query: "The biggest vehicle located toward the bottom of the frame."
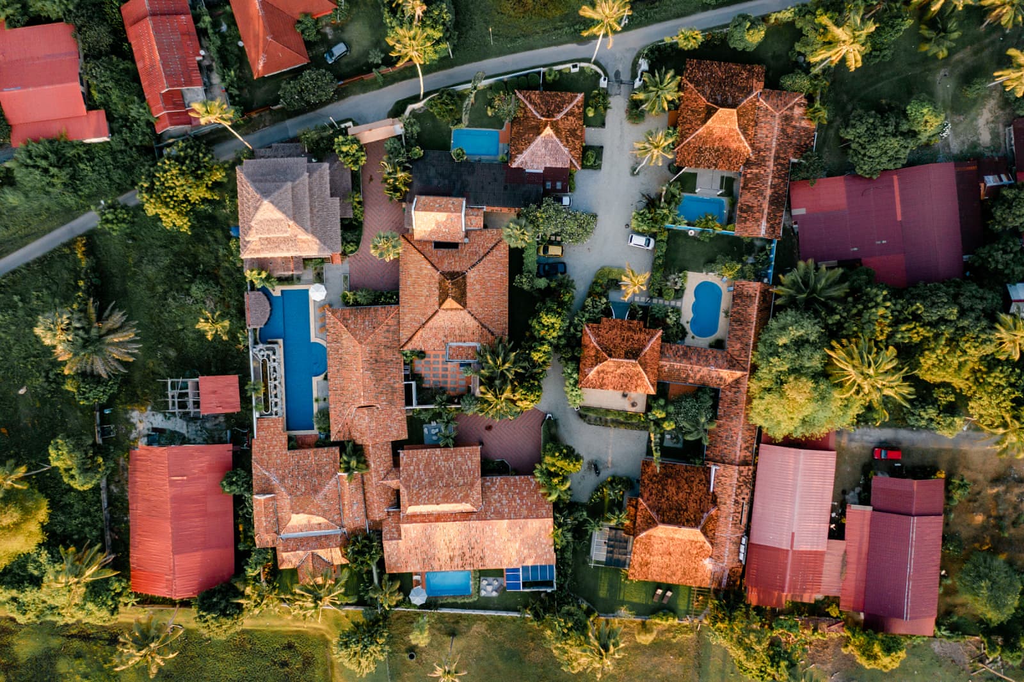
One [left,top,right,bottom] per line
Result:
[873,447,902,462]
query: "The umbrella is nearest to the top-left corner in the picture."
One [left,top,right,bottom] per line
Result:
[310,284,328,302]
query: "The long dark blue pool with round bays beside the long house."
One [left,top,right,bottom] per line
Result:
[249,276,328,438]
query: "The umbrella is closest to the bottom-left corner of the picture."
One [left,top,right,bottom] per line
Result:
[409,586,428,604]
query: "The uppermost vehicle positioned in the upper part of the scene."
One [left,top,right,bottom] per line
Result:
[322,41,350,63]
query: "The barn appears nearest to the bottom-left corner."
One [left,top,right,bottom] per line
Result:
[130,444,239,600]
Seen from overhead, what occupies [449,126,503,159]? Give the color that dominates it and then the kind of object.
blue swimming pool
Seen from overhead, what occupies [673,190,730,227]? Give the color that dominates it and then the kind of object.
blue swimming pool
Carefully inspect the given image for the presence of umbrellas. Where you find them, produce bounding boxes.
[409,586,428,604]
[310,284,328,302]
